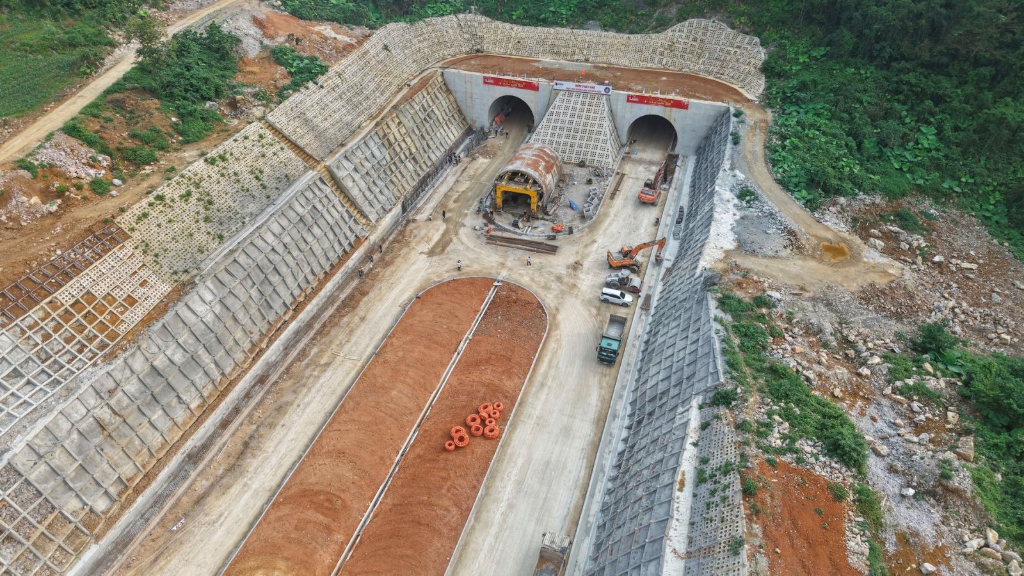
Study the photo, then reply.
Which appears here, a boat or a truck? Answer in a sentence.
There is a truck in the scene.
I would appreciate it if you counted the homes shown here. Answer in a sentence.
There are no homes in this view.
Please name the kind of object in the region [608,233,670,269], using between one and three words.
work vehicle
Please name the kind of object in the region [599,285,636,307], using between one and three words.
car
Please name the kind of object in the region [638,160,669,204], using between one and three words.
work vehicle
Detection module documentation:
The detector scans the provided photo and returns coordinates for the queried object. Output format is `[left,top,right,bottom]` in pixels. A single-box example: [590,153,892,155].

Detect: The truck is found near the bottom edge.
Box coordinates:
[528,533,571,576]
